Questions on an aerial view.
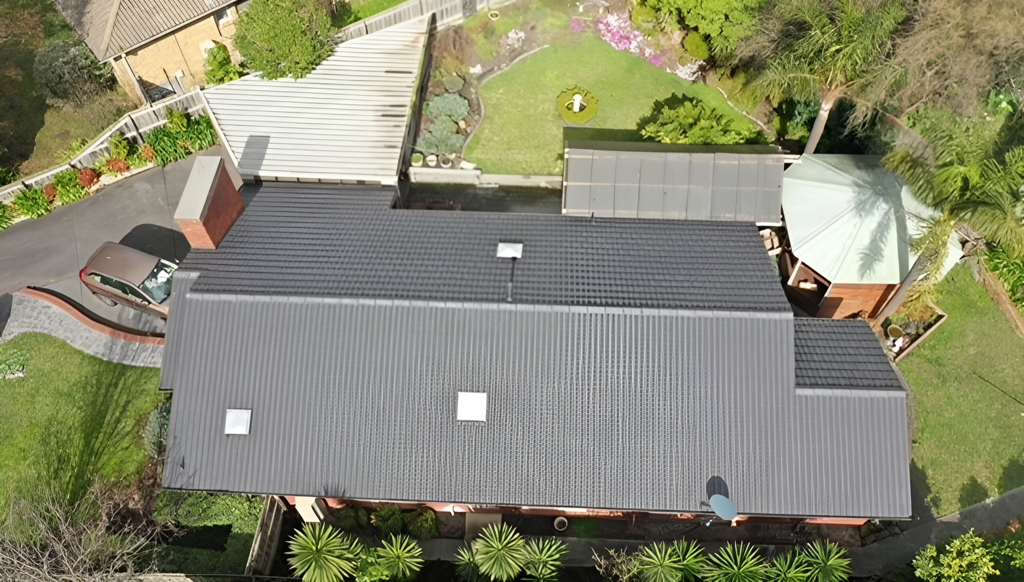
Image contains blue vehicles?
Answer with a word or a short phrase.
No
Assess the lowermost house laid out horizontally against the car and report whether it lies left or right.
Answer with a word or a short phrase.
on its right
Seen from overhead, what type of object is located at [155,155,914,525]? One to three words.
house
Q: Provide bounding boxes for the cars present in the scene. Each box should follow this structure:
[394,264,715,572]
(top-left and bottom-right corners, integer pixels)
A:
[78,237,178,319]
